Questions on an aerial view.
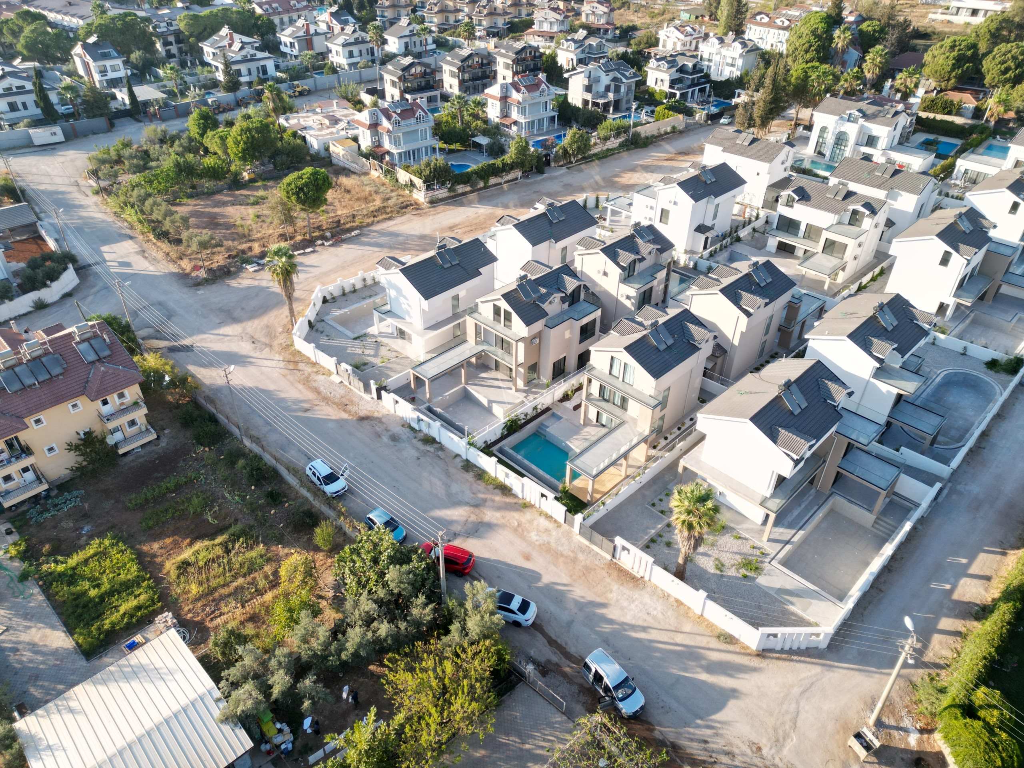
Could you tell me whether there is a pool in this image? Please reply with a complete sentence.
Yes, looking at the shot, I can spot a pool.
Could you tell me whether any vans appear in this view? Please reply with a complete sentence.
Yes, the image includes a van.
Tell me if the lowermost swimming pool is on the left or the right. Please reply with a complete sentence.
The lowermost swimming pool appears in the right half of the scene.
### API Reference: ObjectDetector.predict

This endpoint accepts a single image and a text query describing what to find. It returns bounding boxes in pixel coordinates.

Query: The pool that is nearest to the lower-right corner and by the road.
[773,493,915,604]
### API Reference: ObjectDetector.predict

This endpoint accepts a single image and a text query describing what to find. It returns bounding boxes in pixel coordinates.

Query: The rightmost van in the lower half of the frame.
[583,646,643,717]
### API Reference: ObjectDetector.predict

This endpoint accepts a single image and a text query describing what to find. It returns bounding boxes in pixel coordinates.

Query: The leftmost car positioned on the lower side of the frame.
[305,455,348,494]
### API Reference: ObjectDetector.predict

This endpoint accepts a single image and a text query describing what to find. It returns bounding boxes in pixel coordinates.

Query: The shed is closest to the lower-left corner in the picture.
[15,628,277,768]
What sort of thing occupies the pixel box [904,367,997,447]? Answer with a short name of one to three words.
swimming pool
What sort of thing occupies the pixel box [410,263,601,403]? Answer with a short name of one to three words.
house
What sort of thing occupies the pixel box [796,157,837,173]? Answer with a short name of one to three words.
swimming pool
